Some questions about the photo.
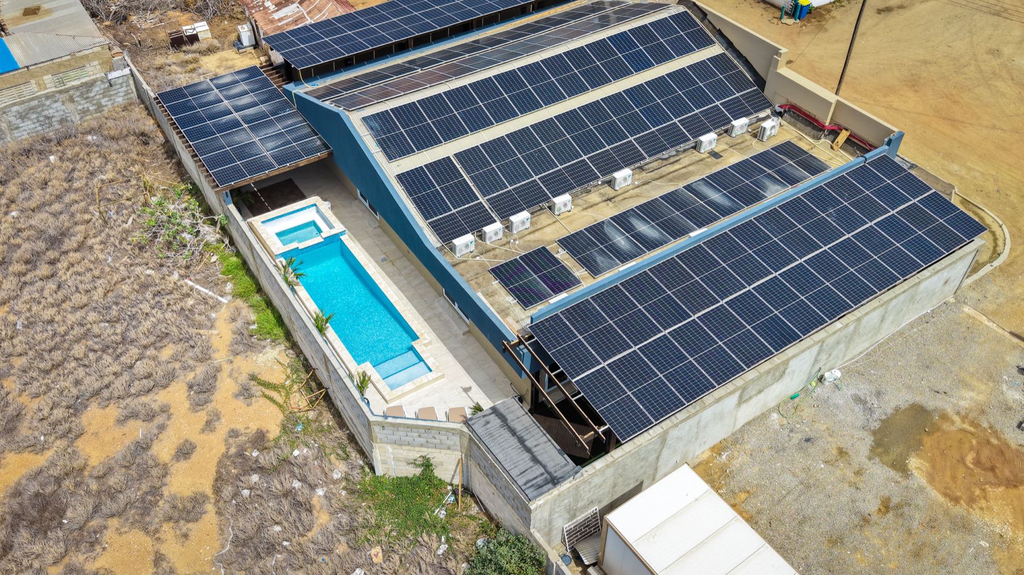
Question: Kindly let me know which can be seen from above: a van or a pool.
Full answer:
The one in the frame is a pool.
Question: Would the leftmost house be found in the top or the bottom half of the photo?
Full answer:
The top half of the photo is where the leftmost house is.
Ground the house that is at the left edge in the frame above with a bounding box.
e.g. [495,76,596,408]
[0,0,113,105]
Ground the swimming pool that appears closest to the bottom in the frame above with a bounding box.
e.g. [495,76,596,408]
[276,233,444,405]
